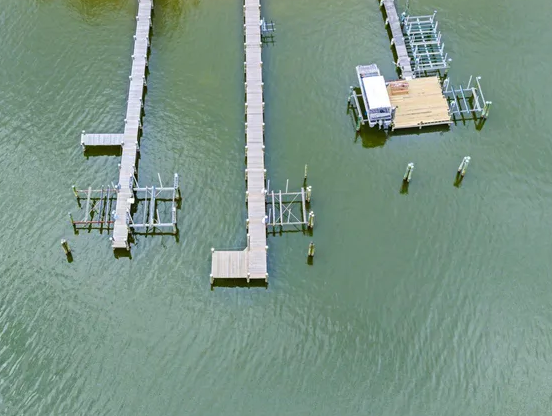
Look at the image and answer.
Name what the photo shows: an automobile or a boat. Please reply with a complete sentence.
It is a boat that can be seen here.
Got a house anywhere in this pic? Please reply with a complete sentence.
No, I find no house anywhere in the image.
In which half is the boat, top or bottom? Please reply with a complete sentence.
It is in the top half that the boat appears.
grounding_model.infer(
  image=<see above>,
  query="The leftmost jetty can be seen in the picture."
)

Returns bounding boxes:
[81,0,154,254]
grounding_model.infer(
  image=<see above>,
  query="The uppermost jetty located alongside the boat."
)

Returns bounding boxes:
[378,0,453,136]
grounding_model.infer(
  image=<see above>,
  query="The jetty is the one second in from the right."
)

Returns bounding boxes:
[209,0,269,285]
